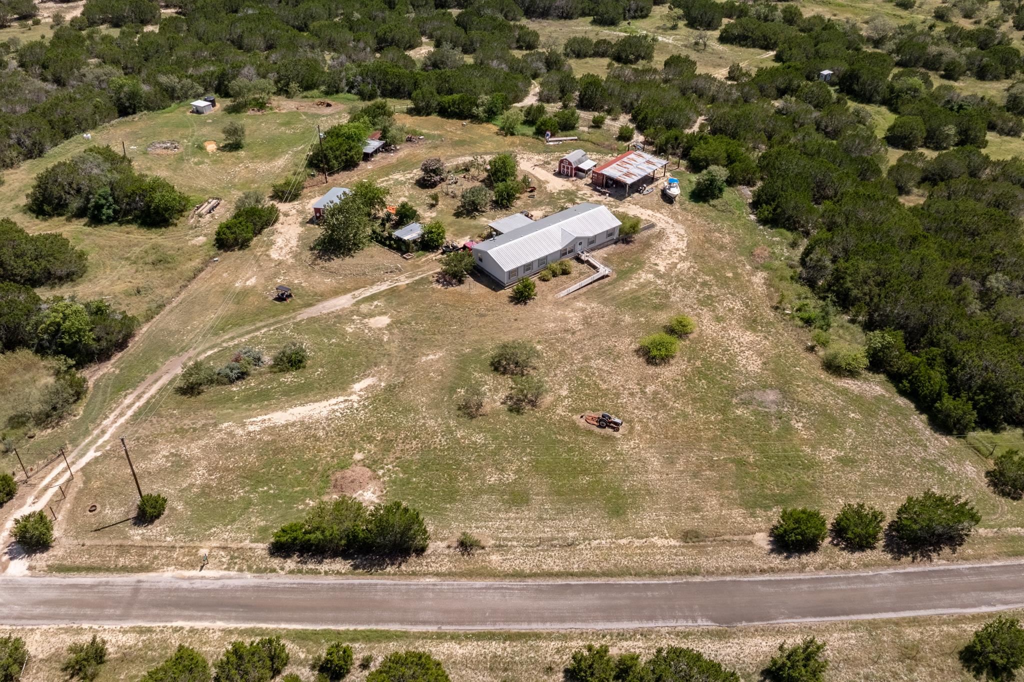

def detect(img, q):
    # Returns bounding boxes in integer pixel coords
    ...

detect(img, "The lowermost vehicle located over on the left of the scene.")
[275,285,294,302]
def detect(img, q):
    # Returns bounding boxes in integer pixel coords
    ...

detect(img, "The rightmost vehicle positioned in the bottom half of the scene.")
[598,410,624,431]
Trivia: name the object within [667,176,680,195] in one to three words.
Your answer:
boat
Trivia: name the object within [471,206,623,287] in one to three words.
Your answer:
house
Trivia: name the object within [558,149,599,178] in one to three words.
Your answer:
barn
